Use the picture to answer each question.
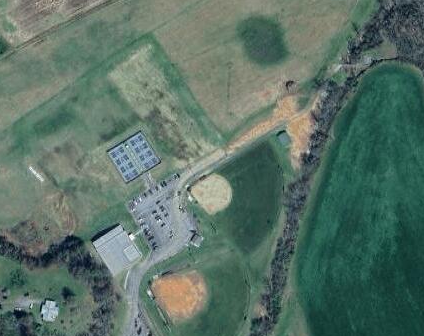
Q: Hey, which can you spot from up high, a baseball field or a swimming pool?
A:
baseball field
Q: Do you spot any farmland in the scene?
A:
Yes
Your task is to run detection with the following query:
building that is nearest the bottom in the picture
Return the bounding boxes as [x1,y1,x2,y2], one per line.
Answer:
[41,300,59,321]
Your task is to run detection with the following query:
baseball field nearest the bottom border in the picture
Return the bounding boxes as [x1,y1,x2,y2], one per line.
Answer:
[146,252,250,336]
